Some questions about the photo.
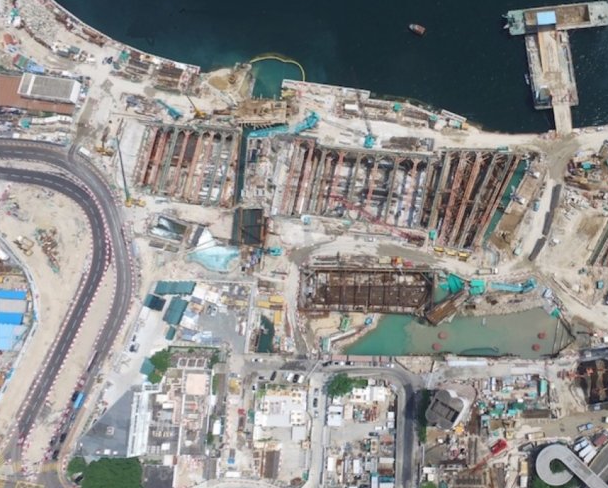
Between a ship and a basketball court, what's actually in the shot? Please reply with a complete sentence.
This aerial view contains a ship.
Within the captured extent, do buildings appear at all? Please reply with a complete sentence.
Yes, looking at the shot, I can spot a building.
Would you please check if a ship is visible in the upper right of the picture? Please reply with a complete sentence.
Yes, looking in the upper right of the picture, one can make out a ship.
